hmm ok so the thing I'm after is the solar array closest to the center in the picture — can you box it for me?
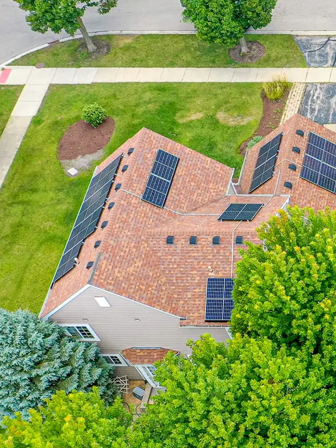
[149,148,183,206]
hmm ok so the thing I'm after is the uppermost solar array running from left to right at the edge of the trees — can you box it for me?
[219,203,268,217]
